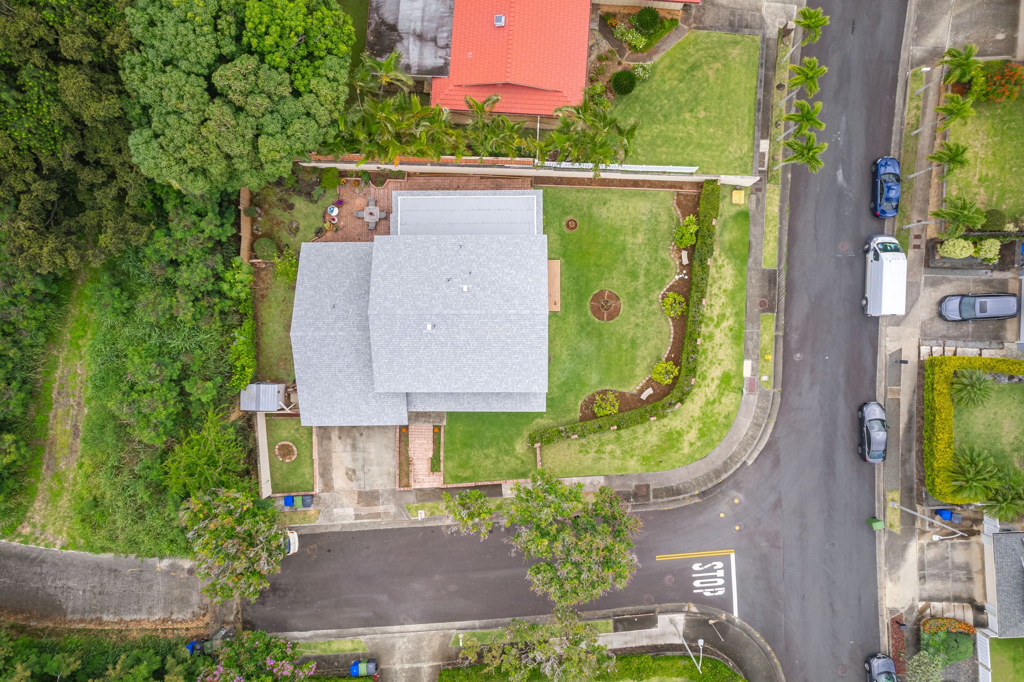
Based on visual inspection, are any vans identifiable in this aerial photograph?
Yes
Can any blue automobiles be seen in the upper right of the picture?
Yes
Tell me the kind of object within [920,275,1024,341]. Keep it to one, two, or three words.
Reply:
car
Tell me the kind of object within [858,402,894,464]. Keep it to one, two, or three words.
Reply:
car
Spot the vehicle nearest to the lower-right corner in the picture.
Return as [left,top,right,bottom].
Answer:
[865,652,902,682]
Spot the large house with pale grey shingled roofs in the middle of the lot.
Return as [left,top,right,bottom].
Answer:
[290,190,549,426]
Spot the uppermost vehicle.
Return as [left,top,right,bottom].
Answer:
[870,154,907,216]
